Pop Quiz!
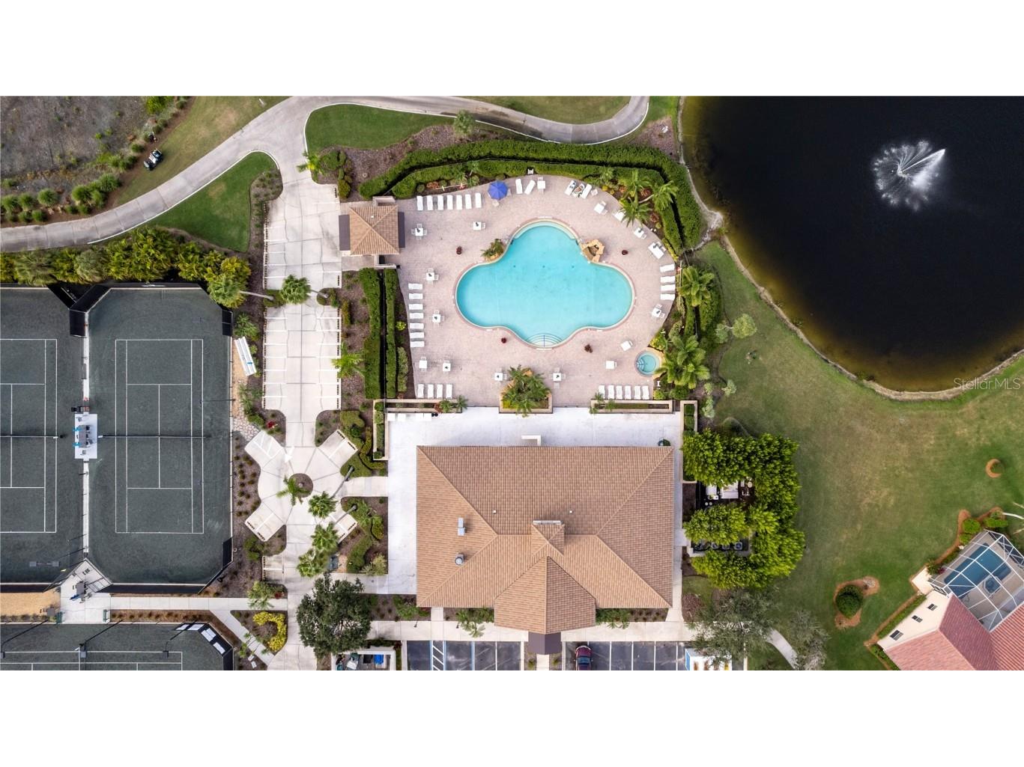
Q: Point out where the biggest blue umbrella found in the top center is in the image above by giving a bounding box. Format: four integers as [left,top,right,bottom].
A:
[488,180,509,201]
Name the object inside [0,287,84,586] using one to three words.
tennis court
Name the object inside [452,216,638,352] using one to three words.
swimming pool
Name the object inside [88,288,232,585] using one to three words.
tennis court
